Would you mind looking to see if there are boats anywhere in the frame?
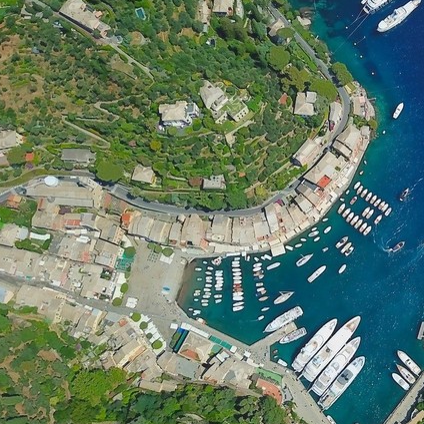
Yes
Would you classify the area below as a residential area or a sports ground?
residential area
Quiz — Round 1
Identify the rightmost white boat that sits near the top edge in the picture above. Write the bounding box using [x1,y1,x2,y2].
[374,0,421,34]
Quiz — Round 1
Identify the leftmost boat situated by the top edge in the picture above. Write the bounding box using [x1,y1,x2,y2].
[341,0,387,41]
